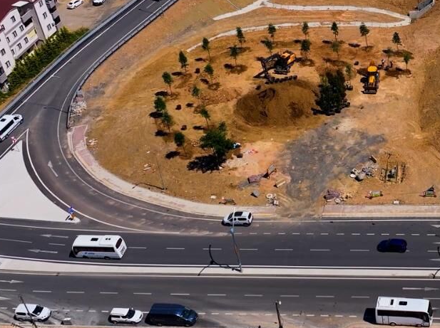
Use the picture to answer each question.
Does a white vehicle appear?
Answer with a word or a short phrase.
Yes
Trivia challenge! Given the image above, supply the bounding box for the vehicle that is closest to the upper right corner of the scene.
[362,58,379,91]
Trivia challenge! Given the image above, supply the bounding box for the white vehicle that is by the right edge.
[373,296,431,326]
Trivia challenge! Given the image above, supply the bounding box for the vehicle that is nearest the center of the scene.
[221,209,254,226]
